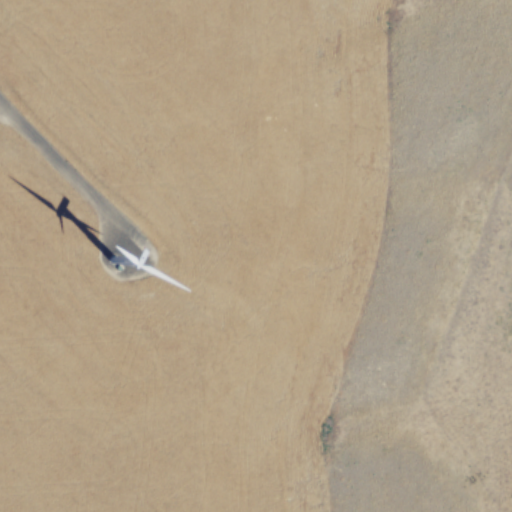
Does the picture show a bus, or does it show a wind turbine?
wind turbine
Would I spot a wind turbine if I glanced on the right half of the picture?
No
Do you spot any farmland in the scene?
Yes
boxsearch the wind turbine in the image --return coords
[108,244,193,292]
